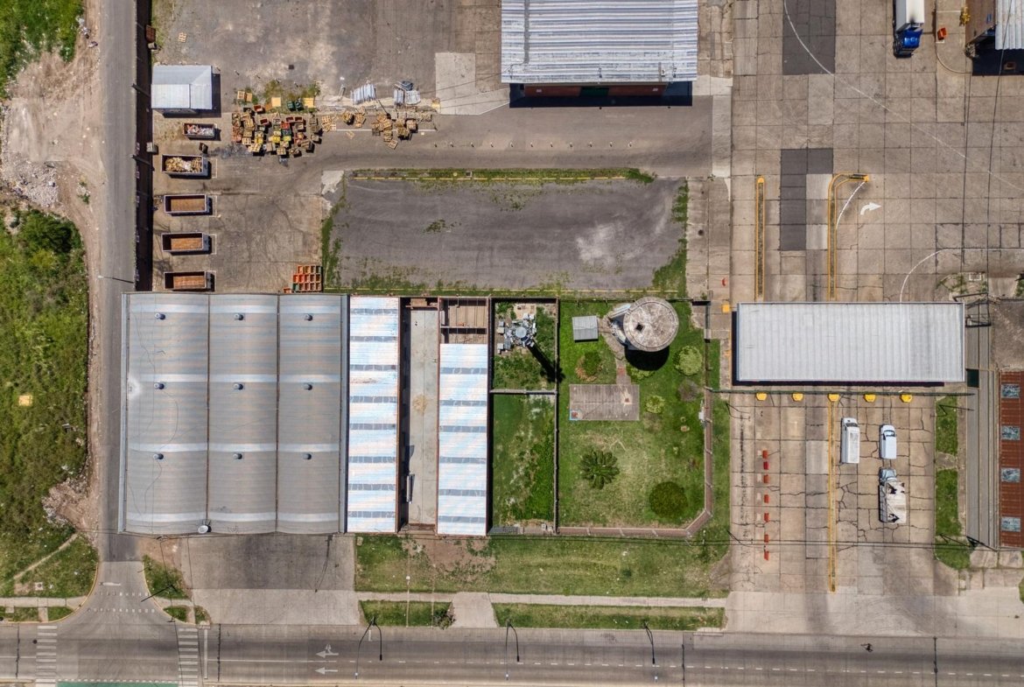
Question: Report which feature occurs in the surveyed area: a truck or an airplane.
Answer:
truck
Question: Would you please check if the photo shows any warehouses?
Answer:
Yes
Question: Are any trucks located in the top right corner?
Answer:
Yes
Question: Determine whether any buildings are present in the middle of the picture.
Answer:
Yes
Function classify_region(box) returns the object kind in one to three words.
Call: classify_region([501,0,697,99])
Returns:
building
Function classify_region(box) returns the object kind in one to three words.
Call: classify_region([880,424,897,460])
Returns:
vehicle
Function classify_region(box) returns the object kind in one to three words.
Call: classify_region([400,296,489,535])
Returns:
shed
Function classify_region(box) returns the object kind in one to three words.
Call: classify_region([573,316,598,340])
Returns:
building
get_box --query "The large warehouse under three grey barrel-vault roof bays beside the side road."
[120,293,349,536]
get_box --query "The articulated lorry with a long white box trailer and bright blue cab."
[892,0,924,58]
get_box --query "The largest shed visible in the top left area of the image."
[152,65,212,109]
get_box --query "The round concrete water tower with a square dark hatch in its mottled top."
[607,297,680,352]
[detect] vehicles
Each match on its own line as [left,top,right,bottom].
[842,417,861,464]
[881,467,905,527]
[892,0,924,58]
[880,424,897,460]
